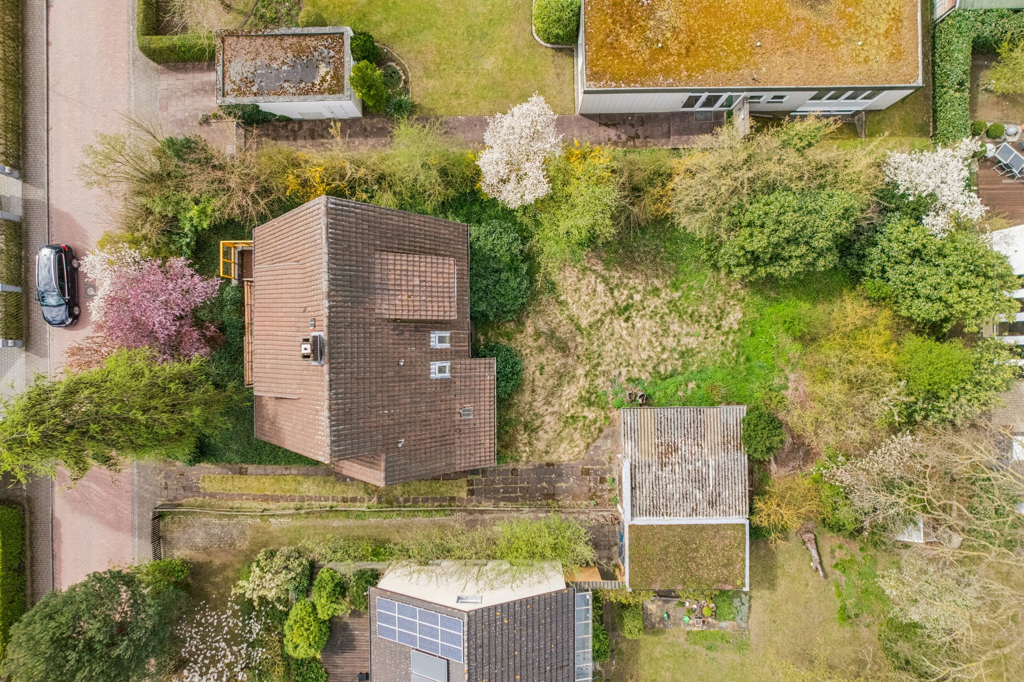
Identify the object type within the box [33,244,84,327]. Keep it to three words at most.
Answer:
car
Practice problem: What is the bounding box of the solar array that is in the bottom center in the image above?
[376,598,463,662]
